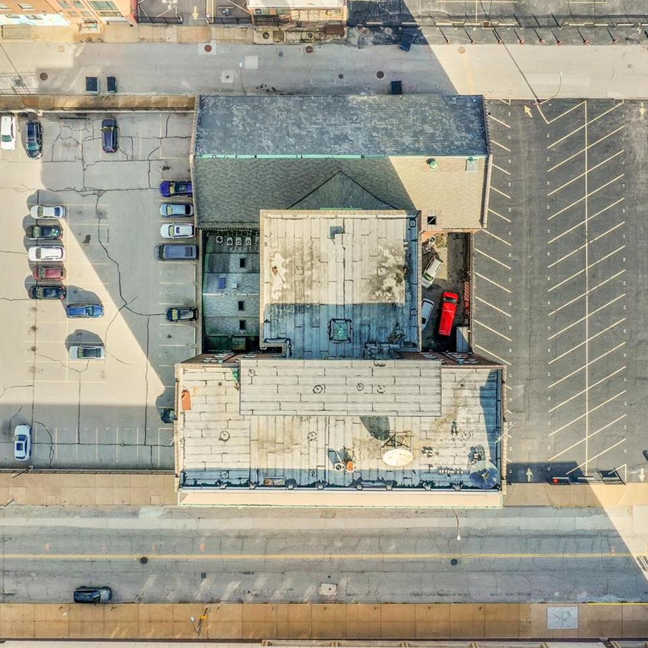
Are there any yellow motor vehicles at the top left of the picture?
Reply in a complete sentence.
No, no yellow motor vehicle appears at the top left of the picture.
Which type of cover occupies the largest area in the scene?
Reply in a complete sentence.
Most of the picture is covered by paved ground.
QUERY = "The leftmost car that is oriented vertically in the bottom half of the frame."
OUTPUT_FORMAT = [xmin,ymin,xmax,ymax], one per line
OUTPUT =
[14,425,31,461]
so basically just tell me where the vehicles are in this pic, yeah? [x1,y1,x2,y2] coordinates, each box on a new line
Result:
[156,242,197,259]
[159,202,194,218]
[31,245,64,260]
[24,121,43,158]
[165,306,198,323]
[14,425,31,461]
[159,408,176,424]
[161,222,196,239]
[437,291,460,336]
[0,113,18,150]
[420,252,445,287]
[30,284,66,300]
[31,204,67,219]
[26,223,62,239]
[67,302,103,318]
[101,119,119,154]
[69,344,105,359]
[159,181,193,197]
[34,266,65,280]
[74,586,110,604]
